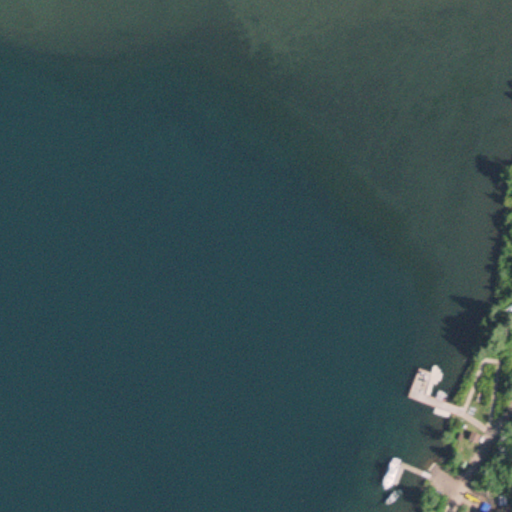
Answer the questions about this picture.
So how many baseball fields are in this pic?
0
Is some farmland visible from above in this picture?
No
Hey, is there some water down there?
Yes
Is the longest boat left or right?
right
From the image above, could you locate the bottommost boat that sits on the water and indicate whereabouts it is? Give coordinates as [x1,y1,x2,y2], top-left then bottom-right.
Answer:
[385,489,402,504]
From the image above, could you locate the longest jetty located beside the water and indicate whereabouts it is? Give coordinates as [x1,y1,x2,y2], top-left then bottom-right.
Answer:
[408,368,486,433]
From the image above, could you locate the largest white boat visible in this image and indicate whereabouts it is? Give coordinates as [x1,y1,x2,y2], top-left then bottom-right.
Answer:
[383,456,402,490]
